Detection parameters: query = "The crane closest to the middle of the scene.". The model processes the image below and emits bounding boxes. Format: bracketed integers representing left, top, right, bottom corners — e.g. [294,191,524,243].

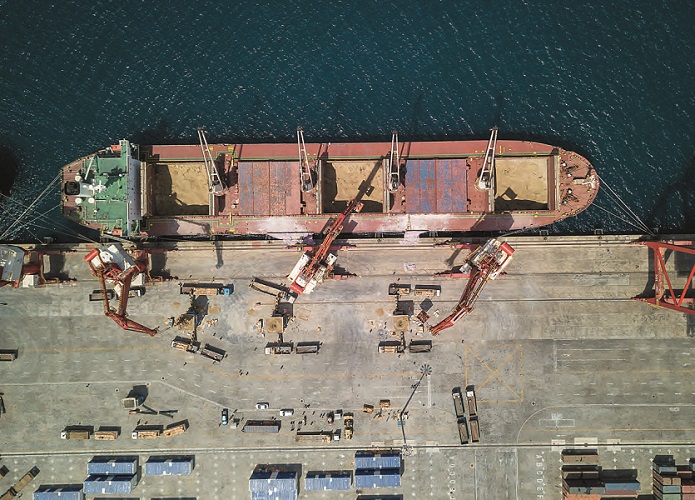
[285,198,362,299]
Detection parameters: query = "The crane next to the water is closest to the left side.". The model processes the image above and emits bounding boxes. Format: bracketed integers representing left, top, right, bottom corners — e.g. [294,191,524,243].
[0,239,74,293]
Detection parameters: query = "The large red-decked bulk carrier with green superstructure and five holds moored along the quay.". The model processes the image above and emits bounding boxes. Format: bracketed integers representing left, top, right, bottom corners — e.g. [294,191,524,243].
[60,124,601,247]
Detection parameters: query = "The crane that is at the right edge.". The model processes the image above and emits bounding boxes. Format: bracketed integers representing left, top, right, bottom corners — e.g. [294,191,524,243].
[629,242,695,315]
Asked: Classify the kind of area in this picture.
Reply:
port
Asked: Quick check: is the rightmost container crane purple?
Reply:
No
